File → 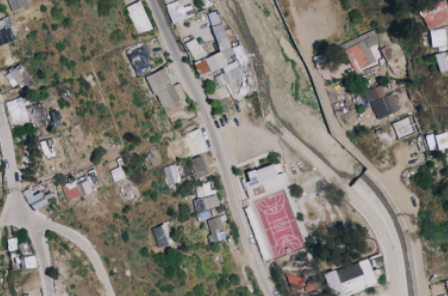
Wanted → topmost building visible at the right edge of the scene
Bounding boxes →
[422,1,448,29]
